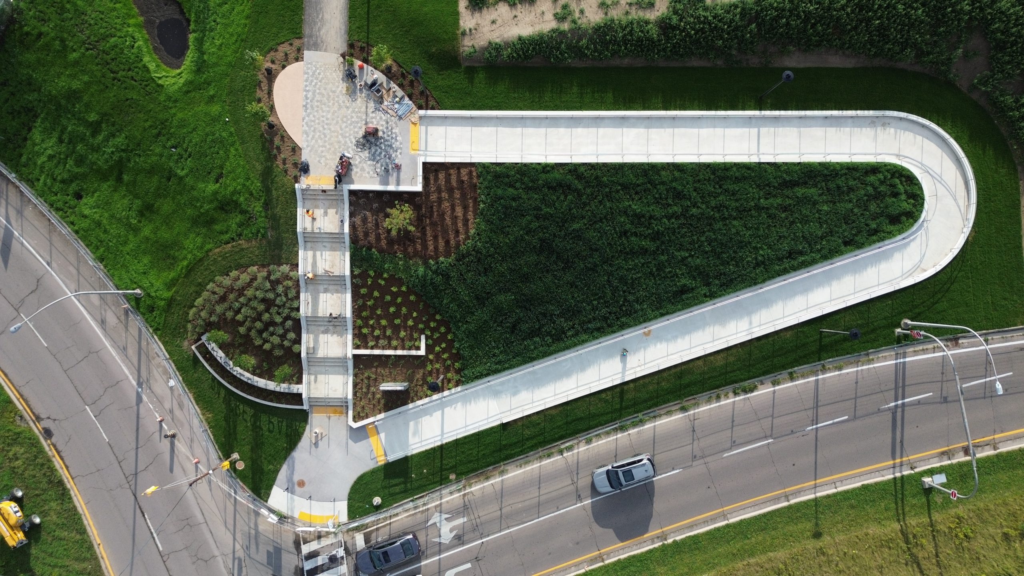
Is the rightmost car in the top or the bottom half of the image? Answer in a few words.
bottom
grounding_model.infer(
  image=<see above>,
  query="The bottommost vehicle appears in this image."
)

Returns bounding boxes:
[352,534,421,576]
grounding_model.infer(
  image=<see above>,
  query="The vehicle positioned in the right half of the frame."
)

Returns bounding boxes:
[590,452,658,493]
